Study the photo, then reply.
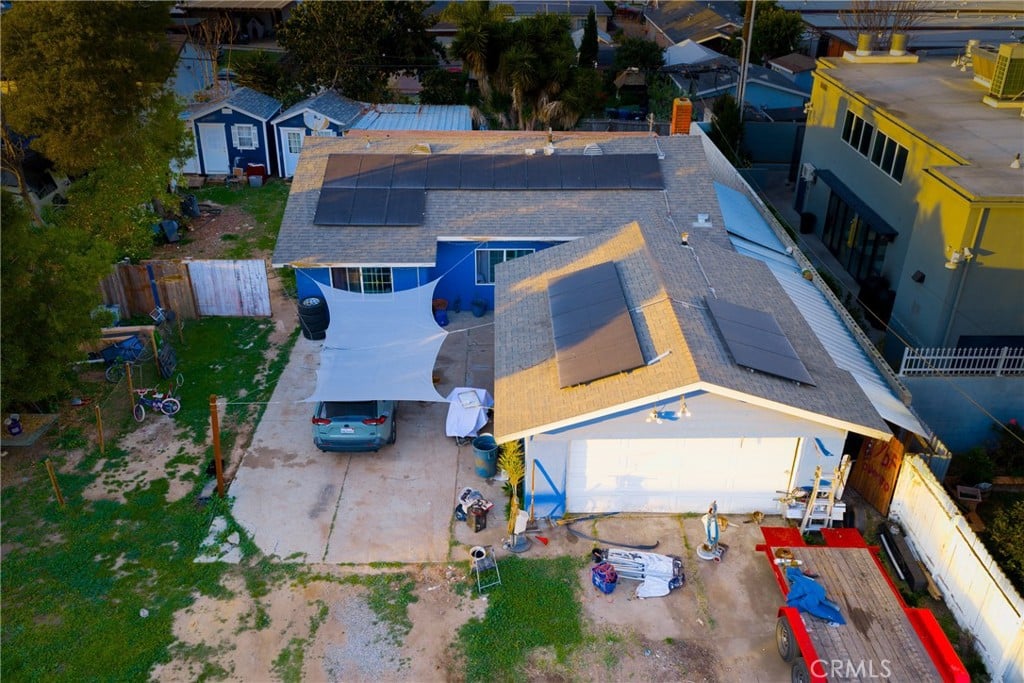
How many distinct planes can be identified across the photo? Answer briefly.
0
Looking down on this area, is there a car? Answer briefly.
Yes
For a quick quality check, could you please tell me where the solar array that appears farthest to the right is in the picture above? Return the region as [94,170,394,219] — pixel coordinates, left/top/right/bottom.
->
[700,284,819,382]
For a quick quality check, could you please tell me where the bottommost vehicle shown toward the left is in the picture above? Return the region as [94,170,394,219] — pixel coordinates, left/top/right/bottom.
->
[312,403,400,451]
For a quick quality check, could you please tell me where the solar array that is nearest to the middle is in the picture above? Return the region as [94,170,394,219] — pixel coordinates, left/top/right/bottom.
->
[547,257,642,385]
